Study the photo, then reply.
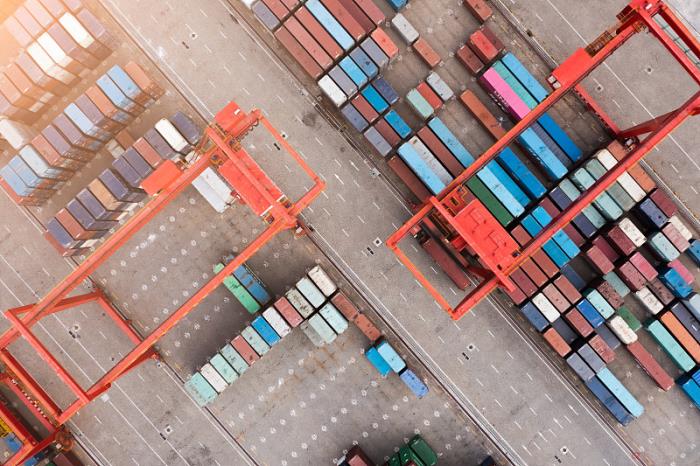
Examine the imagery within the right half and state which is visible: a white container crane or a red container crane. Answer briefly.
red container crane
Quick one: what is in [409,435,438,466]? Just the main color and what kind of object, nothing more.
green shipping container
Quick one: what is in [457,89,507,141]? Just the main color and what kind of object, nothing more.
red shipping container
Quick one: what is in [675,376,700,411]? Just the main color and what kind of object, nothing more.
blue shipping container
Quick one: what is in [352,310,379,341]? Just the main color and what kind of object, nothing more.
red shipping container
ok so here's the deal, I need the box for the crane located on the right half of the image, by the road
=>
[388,0,700,320]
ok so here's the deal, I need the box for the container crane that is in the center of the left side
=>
[0,101,329,426]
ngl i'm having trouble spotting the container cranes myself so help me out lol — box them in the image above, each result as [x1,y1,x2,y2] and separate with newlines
[0,101,329,426]
[388,0,700,320]
[0,365,72,466]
